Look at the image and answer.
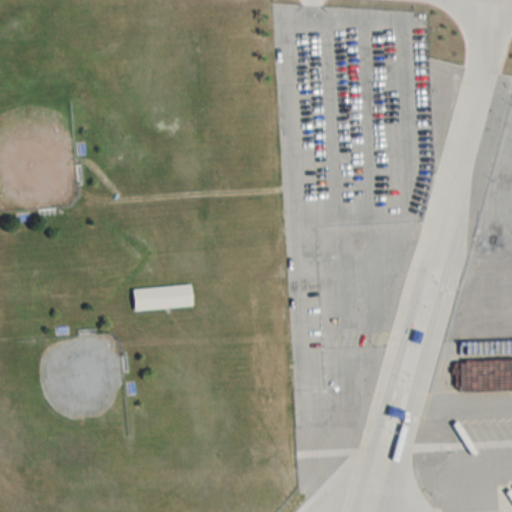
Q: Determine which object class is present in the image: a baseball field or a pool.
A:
baseball field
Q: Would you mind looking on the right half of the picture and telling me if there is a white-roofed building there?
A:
No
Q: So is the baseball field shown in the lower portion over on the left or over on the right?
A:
left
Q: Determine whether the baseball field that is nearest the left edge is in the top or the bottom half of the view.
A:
top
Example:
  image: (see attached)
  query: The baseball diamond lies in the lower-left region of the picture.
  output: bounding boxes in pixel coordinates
[39,333,122,421]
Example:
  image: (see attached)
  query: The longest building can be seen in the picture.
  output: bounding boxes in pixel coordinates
[134,284,194,314]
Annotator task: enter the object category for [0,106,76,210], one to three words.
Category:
baseball field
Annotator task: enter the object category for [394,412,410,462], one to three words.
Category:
vehicle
